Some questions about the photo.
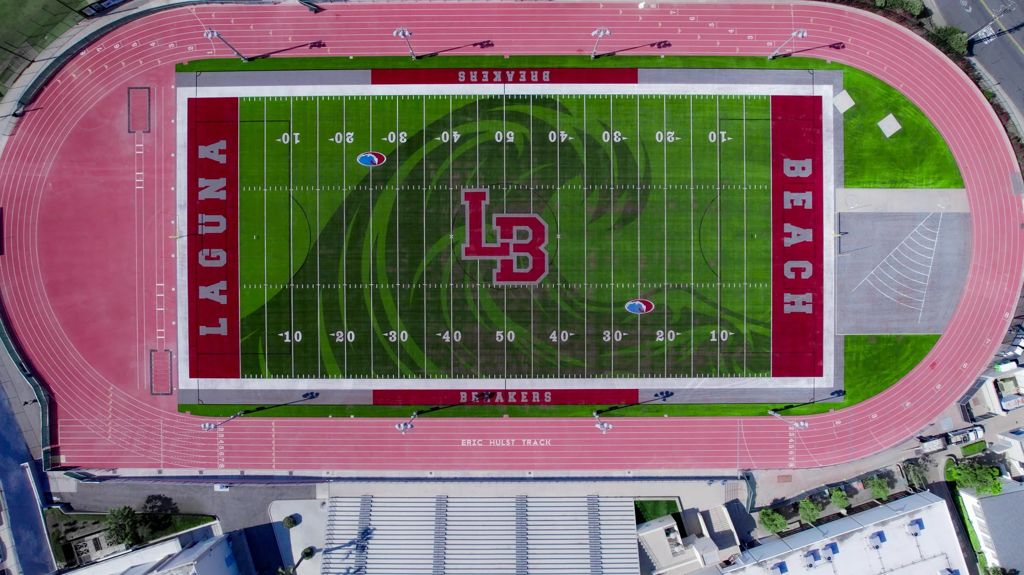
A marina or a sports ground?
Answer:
sports ground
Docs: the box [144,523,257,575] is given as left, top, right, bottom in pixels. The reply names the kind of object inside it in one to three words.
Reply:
building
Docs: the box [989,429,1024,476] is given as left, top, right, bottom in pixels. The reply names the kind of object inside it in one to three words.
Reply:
building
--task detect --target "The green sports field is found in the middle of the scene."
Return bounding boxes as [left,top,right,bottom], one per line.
[176,55,845,418]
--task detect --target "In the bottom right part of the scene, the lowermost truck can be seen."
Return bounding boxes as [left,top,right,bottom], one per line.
[946,426,983,447]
